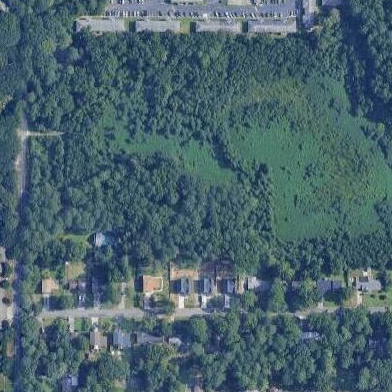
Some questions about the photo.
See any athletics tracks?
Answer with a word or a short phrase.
No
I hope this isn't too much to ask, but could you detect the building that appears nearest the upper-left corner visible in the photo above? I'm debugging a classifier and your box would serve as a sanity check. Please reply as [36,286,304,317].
[75,20,125,32]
